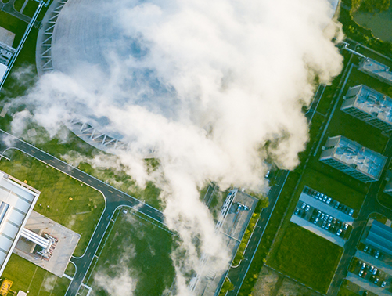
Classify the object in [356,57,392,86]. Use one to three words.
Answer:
building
